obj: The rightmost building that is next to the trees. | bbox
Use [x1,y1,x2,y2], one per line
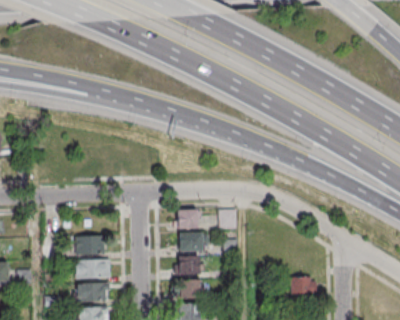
[292,276,316,294]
